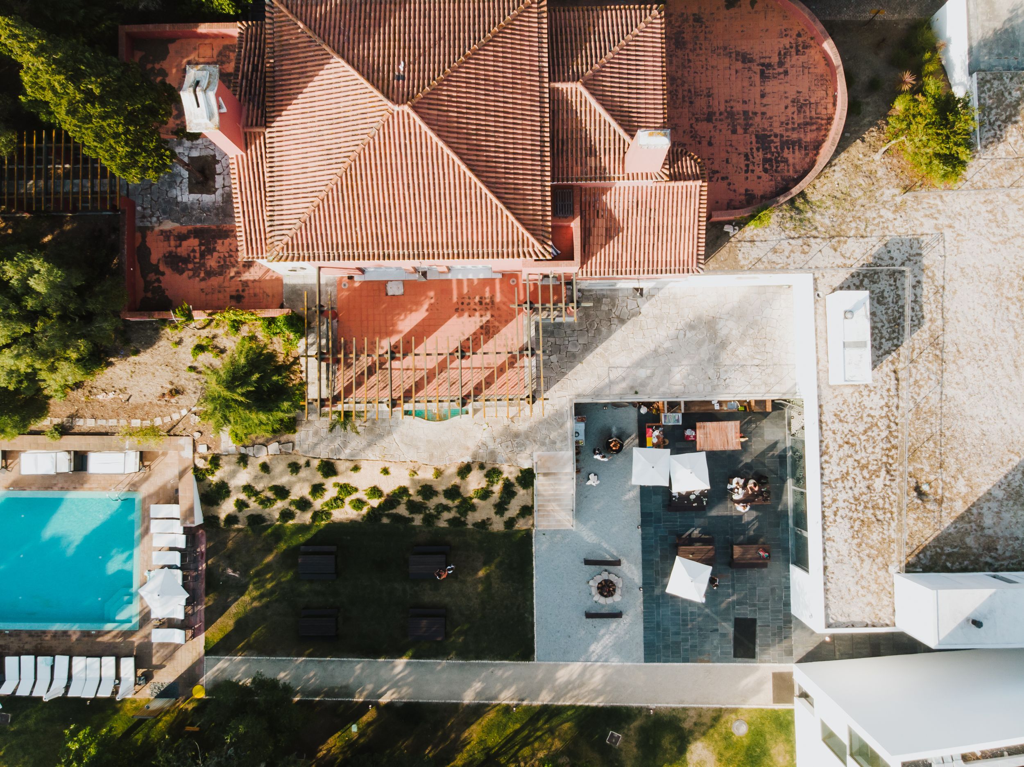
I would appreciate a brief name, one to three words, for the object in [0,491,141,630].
swimming pool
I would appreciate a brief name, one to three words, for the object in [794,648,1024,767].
building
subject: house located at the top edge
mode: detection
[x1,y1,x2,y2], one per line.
[182,0,716,290]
